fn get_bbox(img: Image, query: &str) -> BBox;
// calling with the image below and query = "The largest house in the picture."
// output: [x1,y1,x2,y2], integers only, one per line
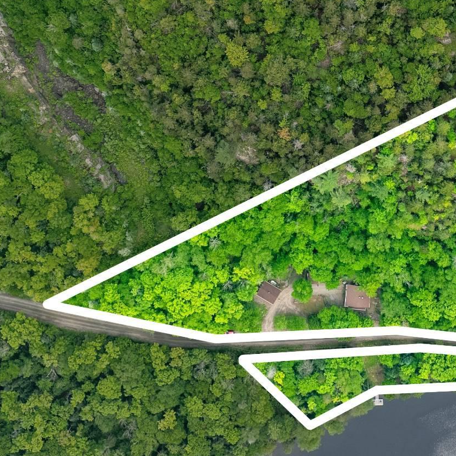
[345,284,371,312]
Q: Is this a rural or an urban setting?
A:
rural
